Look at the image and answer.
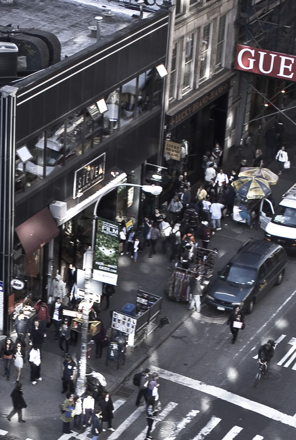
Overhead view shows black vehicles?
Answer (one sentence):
Yes, the frame does contain a black vehicle.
